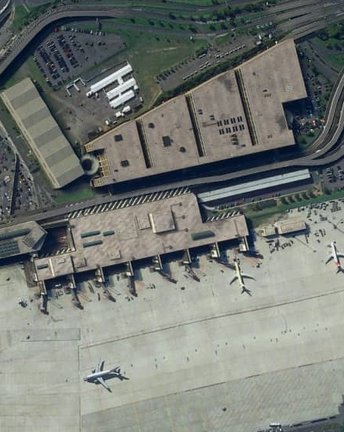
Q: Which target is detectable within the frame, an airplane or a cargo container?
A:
airplane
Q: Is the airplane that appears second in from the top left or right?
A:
right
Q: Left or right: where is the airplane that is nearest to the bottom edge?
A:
left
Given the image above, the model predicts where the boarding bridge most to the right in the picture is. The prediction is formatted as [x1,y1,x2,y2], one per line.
[236,237,266,259]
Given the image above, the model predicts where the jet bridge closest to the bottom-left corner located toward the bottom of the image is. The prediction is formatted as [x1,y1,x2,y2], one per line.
[37,280,50,316]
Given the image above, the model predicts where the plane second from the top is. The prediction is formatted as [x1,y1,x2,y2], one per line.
[229,262,255,290]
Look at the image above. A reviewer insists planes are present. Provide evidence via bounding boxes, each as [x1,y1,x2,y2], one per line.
[83,356,122,390]
[229,262,255,290]
[325,241,344,270]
